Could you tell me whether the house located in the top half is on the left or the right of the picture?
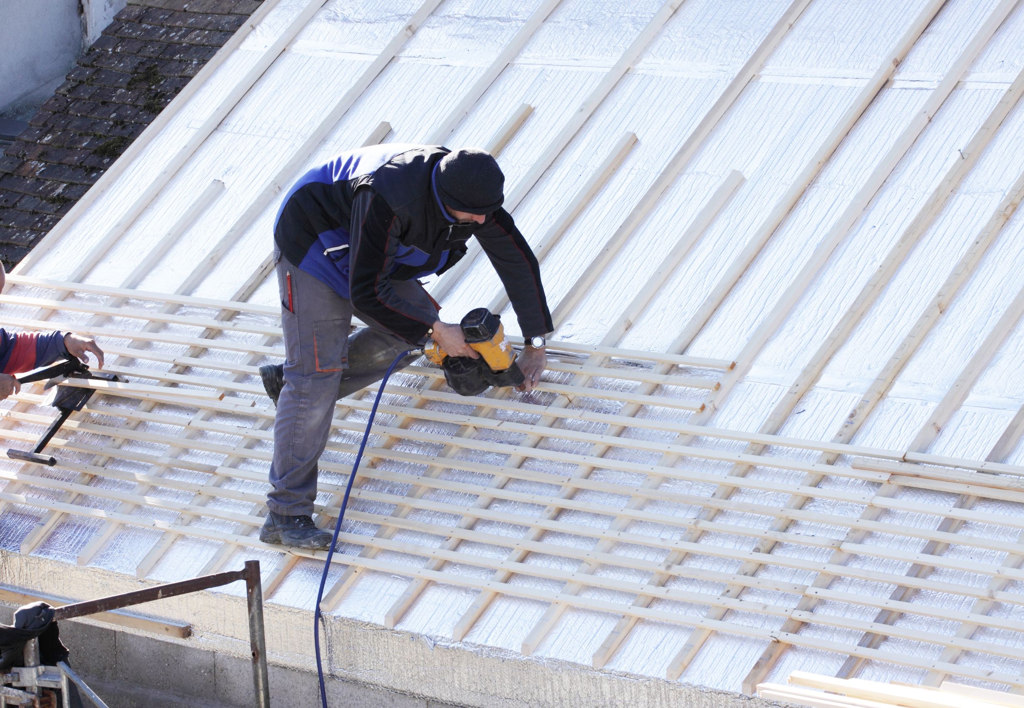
left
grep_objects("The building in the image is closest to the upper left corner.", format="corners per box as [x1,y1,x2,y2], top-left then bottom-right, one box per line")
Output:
[0,0,142,149]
